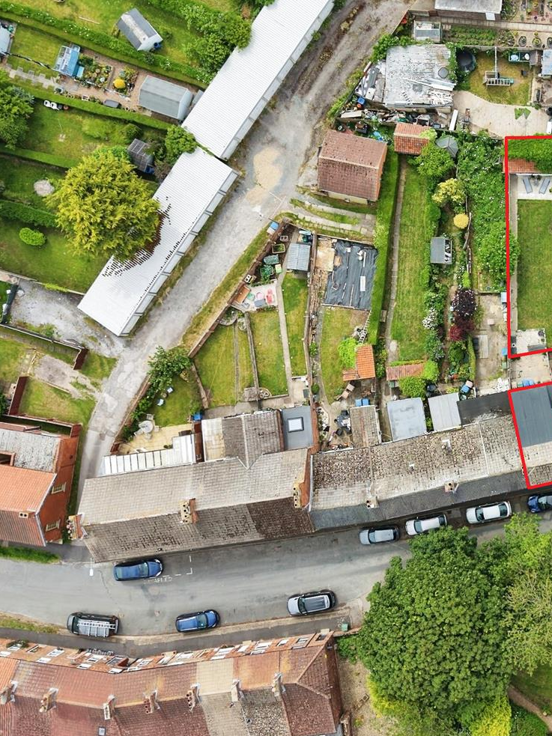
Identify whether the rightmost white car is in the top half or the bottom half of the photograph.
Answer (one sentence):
Seen from above, the rightmost white car lies in the bottom half of the view.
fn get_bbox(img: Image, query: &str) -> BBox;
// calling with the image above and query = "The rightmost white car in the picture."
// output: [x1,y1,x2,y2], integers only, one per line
[466,500,513,525]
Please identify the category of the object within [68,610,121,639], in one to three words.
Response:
car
